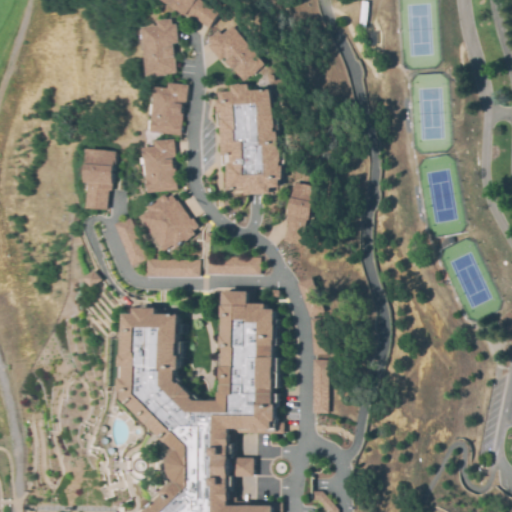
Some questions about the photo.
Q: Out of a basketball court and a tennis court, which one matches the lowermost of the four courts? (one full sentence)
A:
In the photo, the lowermost of the four courts shows up as a tennis court.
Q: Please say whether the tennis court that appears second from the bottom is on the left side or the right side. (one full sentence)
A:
The tennis court that appears second from the bottom is on the right side of the image.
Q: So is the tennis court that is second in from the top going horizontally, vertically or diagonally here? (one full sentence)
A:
The tennis court that is second in from the top has been laid out vertically relative to the frame.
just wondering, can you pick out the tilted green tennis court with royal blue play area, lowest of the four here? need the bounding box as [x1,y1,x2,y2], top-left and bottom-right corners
[442,238,502,320]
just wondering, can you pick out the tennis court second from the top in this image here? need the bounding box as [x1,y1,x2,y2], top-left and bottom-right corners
[412,72,454,154]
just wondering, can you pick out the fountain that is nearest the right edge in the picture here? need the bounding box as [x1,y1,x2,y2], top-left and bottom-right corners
[272,458,291,477]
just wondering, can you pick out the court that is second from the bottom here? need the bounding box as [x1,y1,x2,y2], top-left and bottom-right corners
[422,154,466,236]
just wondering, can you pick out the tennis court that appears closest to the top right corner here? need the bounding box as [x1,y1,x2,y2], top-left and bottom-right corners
[402,0,442,68]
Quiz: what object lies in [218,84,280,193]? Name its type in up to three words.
building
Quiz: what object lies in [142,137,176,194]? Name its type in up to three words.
house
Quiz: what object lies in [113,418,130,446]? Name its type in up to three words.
swimming pool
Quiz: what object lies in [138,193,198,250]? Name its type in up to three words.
house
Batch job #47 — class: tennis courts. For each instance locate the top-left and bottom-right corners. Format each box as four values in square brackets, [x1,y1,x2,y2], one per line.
[402,0,442,68]
[412,72,454,154]
[422,154,466,236]
[442,238,502,320]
